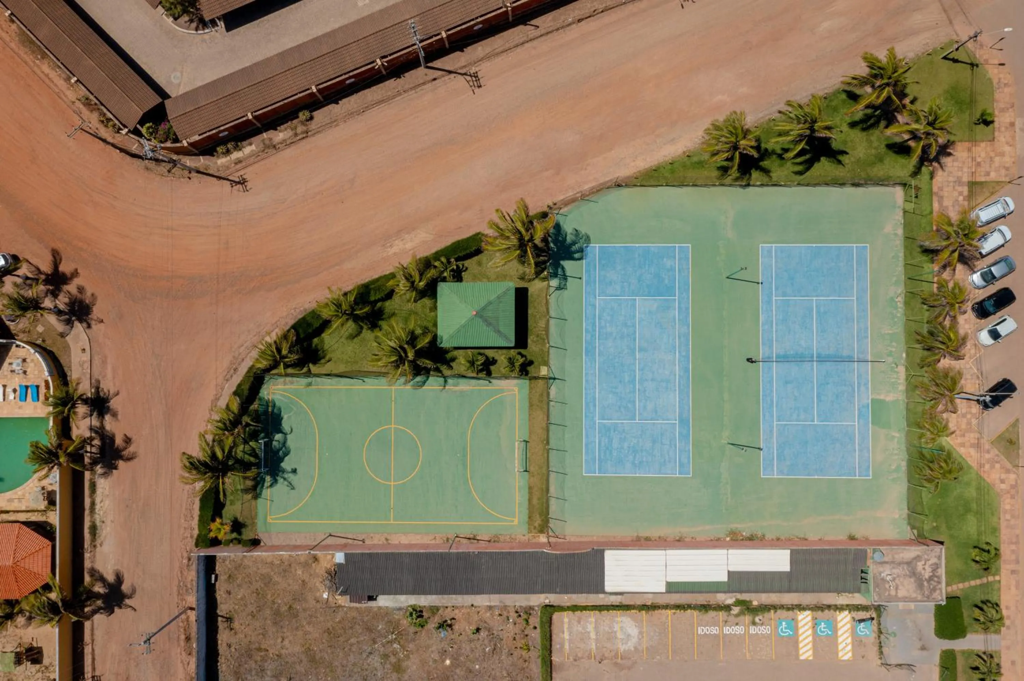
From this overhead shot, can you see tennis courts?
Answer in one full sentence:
Yes, the picture does show a tennis court.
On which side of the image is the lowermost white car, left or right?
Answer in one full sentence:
The lowermost white car is on the right side of the image.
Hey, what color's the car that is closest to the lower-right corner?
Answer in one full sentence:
The car that is closest to the lower-right corner is black.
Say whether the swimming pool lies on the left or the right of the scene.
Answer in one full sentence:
You can find the swimming pool on the left side of the picture.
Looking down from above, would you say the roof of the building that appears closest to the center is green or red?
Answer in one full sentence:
The roof of the building that appears closest to the center looks green in the image.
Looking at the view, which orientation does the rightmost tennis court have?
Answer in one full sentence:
The rightmost tennis court is oriented from top to bottom.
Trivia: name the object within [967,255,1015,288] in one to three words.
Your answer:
car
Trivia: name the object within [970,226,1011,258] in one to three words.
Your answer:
car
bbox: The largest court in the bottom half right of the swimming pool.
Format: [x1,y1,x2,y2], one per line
[257,377,529,534]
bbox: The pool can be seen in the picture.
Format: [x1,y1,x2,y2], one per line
[0,416,50,495]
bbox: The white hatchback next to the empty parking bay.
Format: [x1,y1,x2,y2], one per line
[975,314,1019,346]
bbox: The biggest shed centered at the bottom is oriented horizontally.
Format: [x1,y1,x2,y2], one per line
[335,549,866,603]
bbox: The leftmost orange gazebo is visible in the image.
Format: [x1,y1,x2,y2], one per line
[0,521,57,600]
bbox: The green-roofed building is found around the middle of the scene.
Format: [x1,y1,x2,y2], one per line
[437,282,515,347]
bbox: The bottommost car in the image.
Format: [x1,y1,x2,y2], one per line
[975,375,1020,412]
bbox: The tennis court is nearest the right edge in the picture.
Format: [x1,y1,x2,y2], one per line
[760,244,872,479]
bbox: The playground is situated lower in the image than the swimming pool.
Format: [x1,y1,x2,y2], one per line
[0,633,43,672]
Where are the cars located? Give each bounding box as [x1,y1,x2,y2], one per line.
[970,226,1011,258]
[0,253,19,274]
[975,375,1020,412]
[975,314,1019,346]
[970,285,1019,319]
[967,255,1015,288]
[967,197,1012,227]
